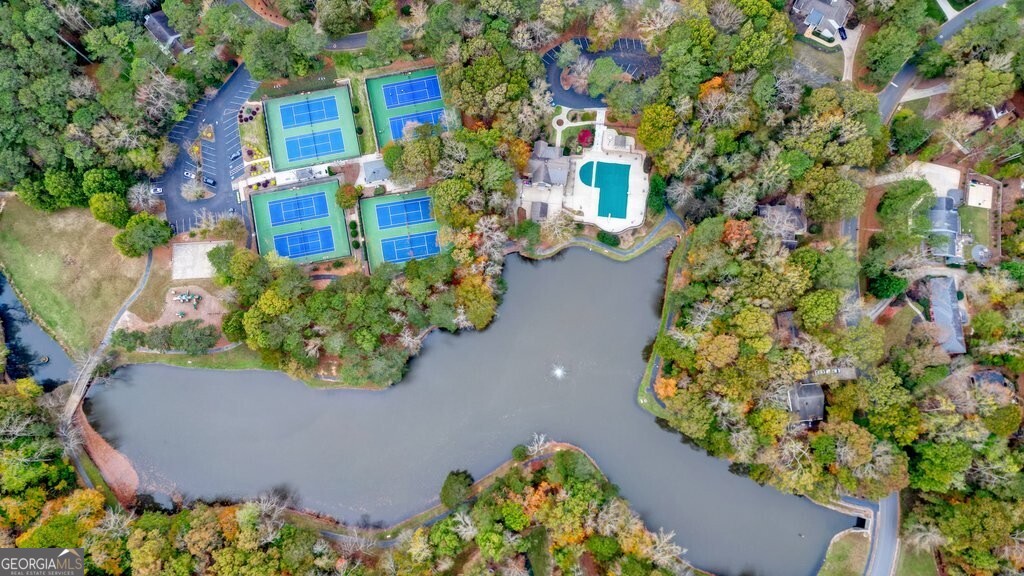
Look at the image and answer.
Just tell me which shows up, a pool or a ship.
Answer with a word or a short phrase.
pool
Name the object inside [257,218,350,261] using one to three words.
tennis court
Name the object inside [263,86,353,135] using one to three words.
tennis court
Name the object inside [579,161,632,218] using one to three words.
swimming pool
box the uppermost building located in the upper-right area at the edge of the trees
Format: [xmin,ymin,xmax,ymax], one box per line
[788,0,854,39]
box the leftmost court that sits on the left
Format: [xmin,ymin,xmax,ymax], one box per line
[171,240,233,280]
